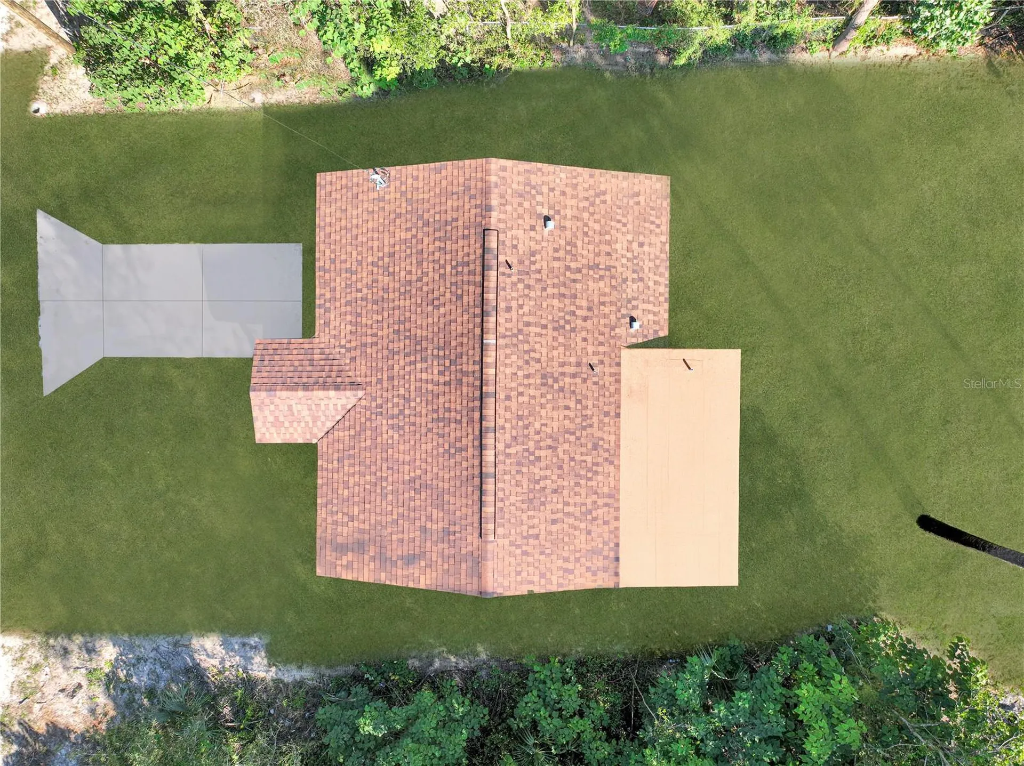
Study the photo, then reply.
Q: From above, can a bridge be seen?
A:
No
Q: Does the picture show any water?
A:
No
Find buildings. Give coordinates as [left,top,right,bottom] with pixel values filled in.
[250,158,742,598]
